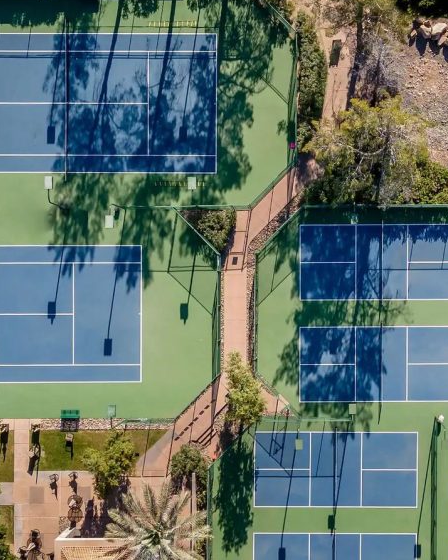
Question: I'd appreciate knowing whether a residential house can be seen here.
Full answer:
No, the picture doesn't show any residential house.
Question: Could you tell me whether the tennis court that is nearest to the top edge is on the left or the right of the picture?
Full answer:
The tennis court that is nearest to the top edge is on the left side of the image.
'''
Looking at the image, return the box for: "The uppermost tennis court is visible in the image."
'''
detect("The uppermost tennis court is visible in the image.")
[0,33,217,174]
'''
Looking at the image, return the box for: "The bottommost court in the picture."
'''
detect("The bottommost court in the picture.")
[252,533,418,560]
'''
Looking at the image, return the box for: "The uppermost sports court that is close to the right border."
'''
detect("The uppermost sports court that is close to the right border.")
[299,224,448,301]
